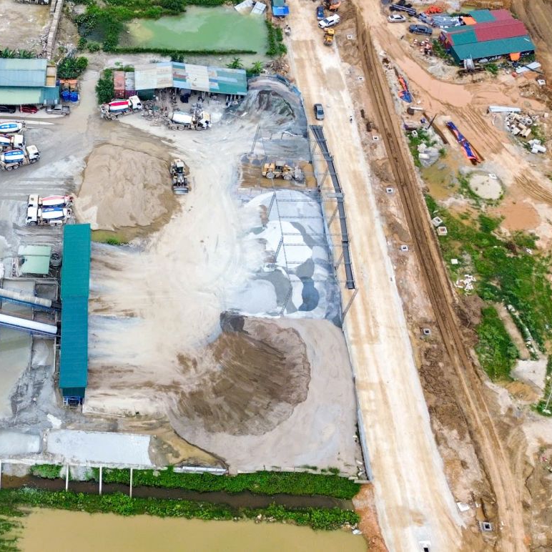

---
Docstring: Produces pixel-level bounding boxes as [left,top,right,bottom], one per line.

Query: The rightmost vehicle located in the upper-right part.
[410,21,434,36]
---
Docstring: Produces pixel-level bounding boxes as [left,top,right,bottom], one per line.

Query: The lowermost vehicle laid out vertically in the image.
[172,158,189,196]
